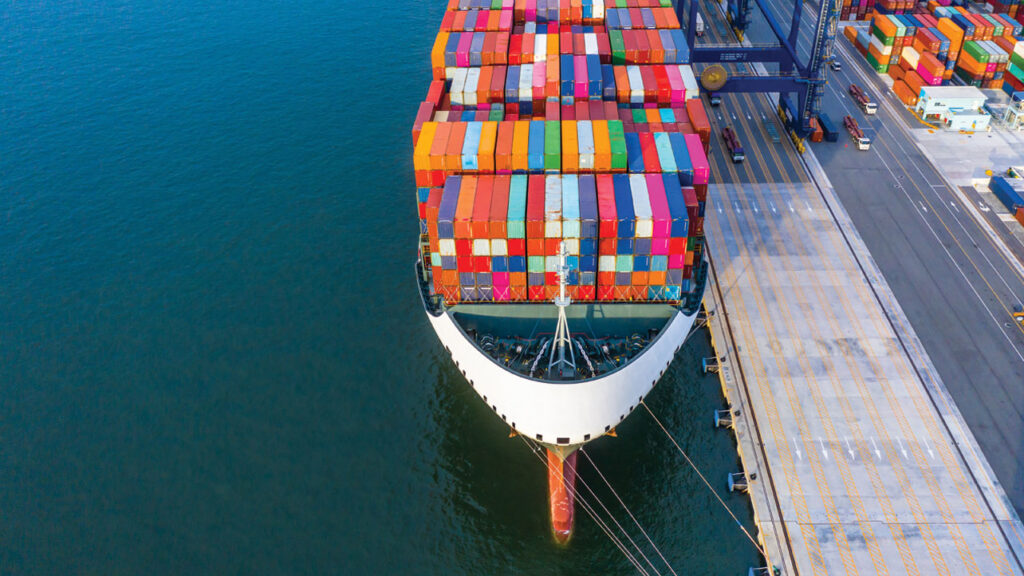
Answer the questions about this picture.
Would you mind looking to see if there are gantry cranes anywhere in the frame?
Yes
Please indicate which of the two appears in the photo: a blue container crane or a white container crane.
blue container crane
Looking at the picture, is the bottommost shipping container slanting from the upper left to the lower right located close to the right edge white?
No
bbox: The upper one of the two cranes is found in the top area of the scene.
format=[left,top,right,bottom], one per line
[727,0,758,39]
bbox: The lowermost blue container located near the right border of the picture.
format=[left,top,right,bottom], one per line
[987,177,1024,216]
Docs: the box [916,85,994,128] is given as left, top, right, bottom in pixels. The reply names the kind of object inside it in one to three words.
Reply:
building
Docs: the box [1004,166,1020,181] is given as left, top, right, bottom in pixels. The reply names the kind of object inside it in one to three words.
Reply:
work vehicle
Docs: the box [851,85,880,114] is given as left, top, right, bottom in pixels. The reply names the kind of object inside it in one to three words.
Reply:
truck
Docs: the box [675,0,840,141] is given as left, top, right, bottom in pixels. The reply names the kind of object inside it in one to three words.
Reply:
container crane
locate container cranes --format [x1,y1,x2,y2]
[727,0,758,39]
[675,0,840,141]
